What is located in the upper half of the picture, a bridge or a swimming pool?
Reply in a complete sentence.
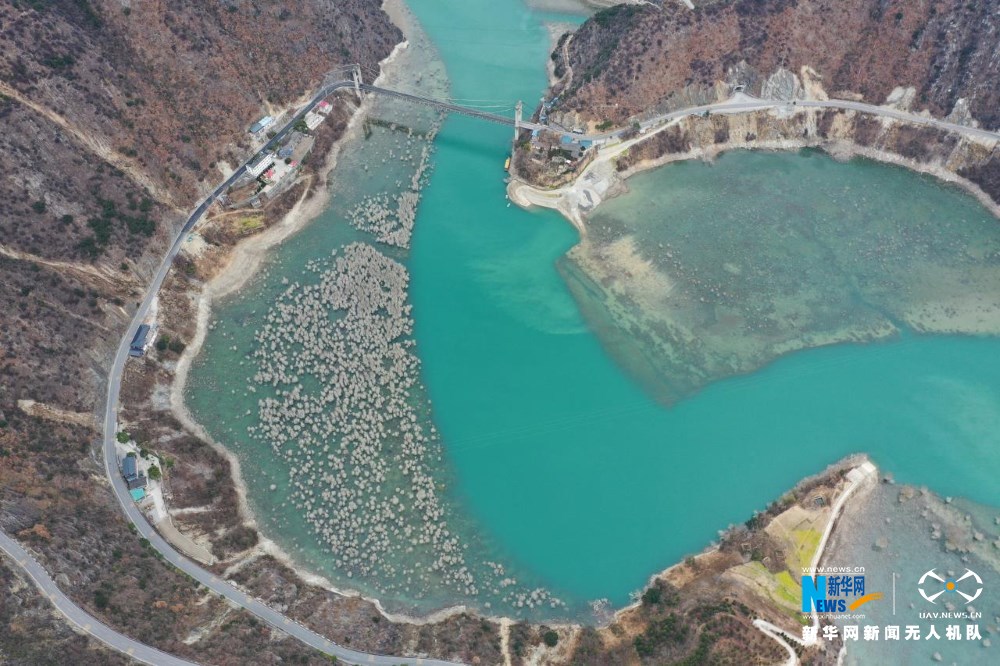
The one visible in the upper half of the picture is a bridge.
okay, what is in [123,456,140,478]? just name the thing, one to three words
house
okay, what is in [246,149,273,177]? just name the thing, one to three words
building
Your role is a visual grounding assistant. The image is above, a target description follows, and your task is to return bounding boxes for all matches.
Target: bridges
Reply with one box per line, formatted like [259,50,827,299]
[310,61,562,142]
